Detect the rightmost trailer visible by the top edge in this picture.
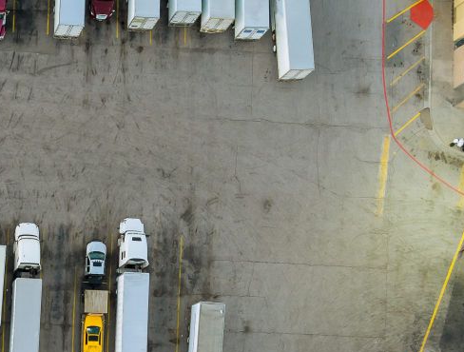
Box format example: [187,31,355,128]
[272,0,315,82]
